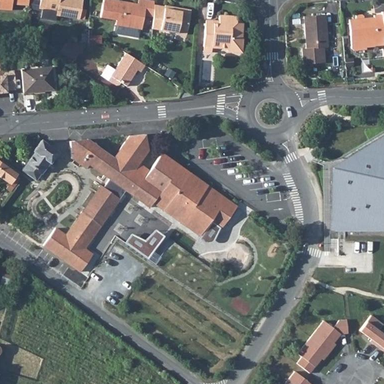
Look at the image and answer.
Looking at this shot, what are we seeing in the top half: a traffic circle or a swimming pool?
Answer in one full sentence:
There is a traffic circle in the top half.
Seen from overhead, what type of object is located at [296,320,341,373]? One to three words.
house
